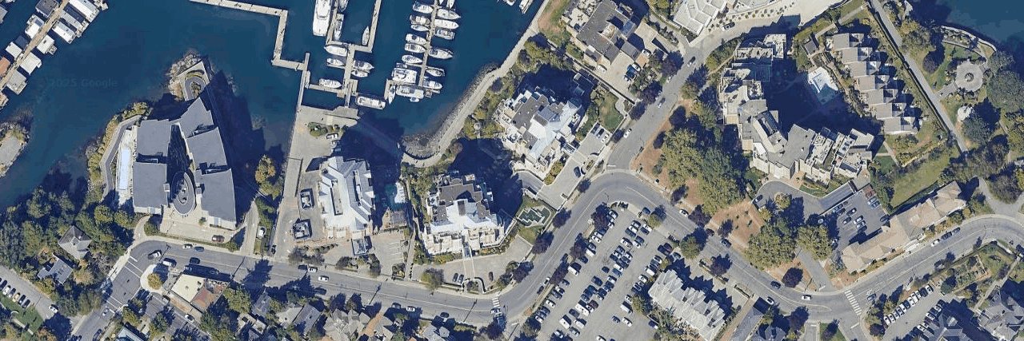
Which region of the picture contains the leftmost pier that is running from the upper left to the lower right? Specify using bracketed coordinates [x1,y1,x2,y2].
[188,0,308,72]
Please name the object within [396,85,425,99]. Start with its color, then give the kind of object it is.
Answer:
white boat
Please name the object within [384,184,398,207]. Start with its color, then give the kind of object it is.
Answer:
blue swimming pool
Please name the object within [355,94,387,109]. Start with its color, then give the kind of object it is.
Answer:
white boat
